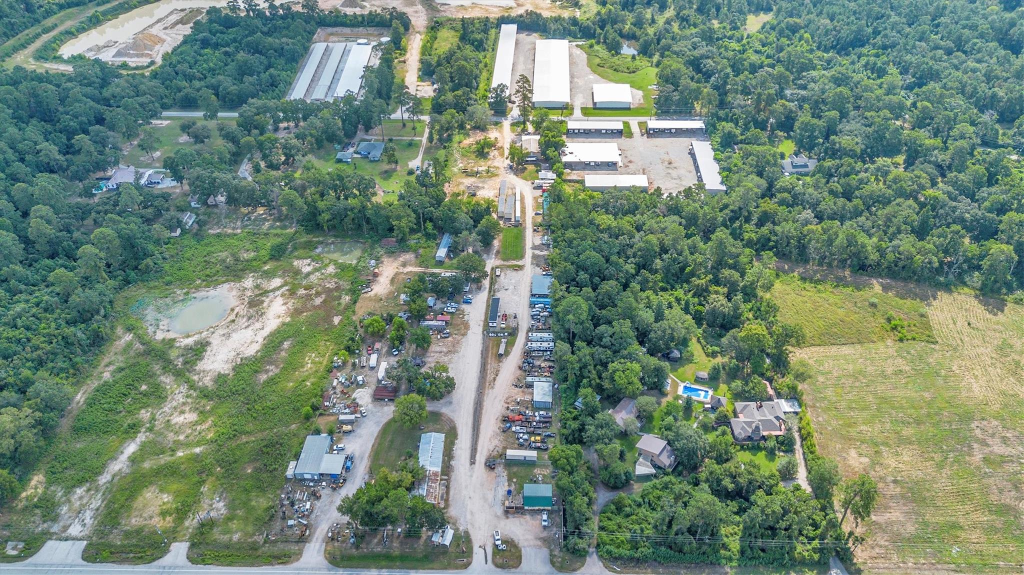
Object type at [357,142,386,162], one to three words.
house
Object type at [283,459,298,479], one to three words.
vehicle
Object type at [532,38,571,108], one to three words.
building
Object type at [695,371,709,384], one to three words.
gazebo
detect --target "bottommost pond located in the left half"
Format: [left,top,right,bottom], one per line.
[166,287,237,334]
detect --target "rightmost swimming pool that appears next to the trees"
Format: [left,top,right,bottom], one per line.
[681,385,711,400]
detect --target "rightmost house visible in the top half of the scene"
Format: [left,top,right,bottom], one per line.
[779,156,820,177]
